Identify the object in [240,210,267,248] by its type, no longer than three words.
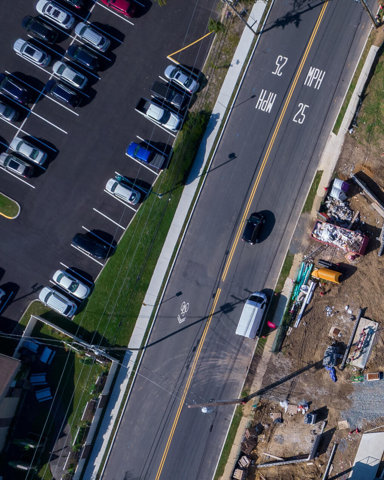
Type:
car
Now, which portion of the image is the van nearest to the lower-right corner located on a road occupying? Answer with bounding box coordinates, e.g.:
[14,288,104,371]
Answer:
[231,290,268,341]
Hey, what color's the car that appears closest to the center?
black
